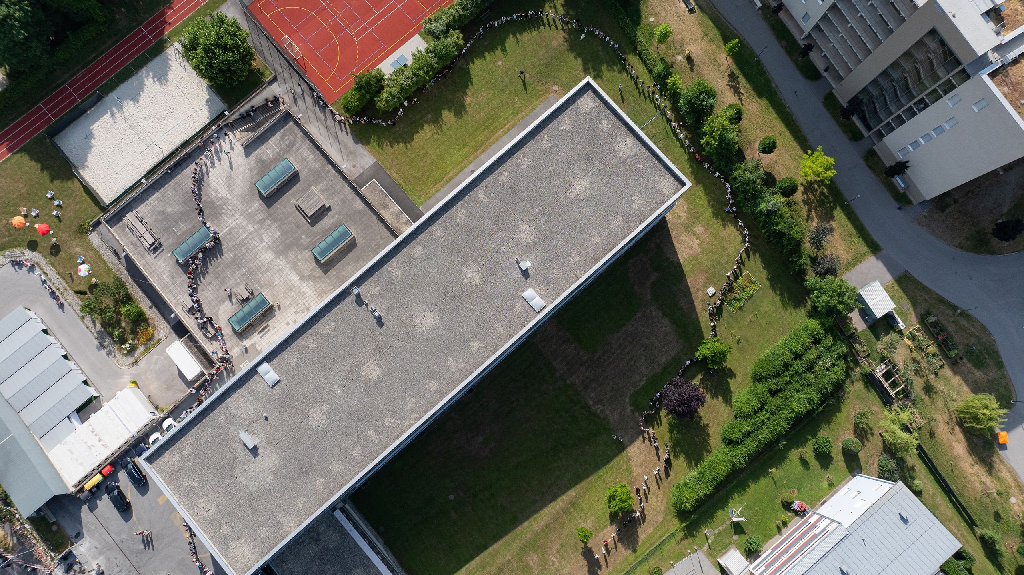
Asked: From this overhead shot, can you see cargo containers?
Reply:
Yes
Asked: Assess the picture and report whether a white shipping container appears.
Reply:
Yes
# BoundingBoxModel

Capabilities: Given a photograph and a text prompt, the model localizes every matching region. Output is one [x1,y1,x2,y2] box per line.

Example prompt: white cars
[165,418,179,433]
[151,433,165,445]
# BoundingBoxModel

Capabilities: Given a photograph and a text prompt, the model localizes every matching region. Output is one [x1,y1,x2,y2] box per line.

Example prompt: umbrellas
[79,264,94,277]
[14,216,29,229]
[39,224,54,236]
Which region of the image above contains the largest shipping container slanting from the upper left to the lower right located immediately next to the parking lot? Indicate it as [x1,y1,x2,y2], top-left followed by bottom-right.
[166,340,204,381]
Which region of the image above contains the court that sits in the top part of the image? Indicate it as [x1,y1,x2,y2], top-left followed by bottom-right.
[253,0,439,104]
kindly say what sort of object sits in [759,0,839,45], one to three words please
building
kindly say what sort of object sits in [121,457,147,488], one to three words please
car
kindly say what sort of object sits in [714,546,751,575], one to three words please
shed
